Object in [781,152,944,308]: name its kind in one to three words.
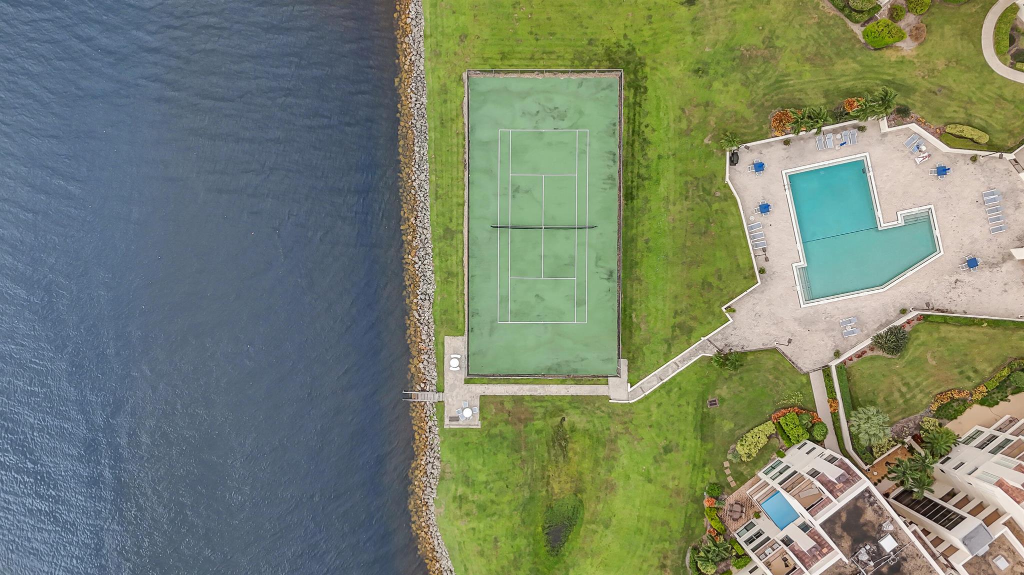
swimming pool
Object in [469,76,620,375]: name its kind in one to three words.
tennis court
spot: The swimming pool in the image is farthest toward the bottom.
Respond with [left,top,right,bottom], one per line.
[762,490,797,527]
